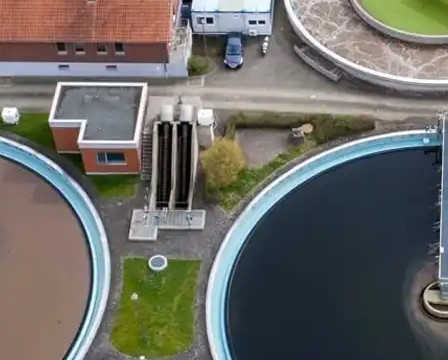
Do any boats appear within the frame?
No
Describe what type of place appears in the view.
industrial area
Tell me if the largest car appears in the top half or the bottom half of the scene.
top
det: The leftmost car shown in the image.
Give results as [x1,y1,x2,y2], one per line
[221,30,244,65]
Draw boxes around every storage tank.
[0,136,111,360]
[284,0,448,97]
[205,130,448,360]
